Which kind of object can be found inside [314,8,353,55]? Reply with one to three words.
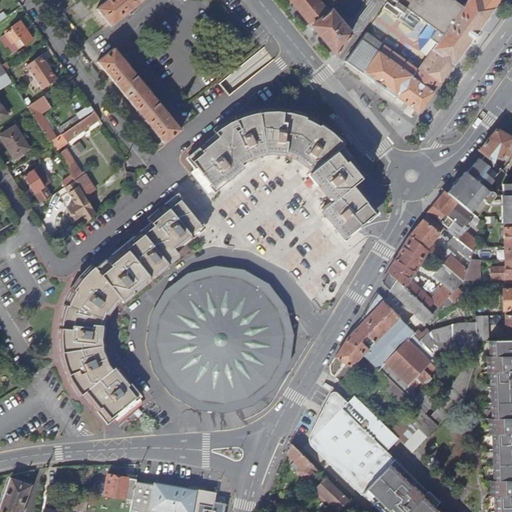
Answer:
house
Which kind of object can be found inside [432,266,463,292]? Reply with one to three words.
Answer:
building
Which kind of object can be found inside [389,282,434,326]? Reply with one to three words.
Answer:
shed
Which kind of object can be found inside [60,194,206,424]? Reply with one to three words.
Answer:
building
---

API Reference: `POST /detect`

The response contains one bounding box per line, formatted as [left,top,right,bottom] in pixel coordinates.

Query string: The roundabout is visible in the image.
[391,154,432,196]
